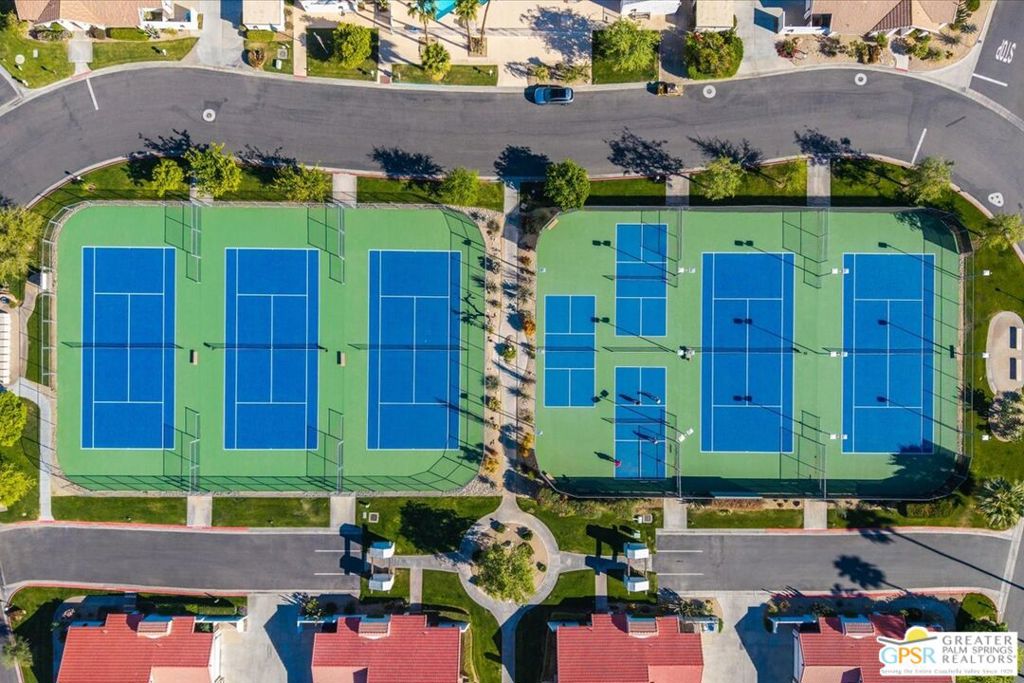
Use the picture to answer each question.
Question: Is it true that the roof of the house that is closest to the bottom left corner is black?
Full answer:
No, the color of the roof of the house that is closest to the bottom left corner is red.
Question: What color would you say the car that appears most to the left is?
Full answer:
The color of the car that appears most to the left is blue.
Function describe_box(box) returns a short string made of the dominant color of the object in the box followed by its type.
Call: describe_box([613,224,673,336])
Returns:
blue sports court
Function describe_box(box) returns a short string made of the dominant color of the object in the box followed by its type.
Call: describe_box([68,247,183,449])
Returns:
blue tennis court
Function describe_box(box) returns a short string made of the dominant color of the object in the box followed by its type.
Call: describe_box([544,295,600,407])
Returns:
blue sports court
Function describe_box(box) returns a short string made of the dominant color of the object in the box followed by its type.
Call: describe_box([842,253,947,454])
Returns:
blue tennis court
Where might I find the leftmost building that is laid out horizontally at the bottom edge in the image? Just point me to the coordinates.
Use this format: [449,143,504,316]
[56,611,223,683]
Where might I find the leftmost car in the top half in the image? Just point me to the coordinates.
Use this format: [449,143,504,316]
[535,82,575,104]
